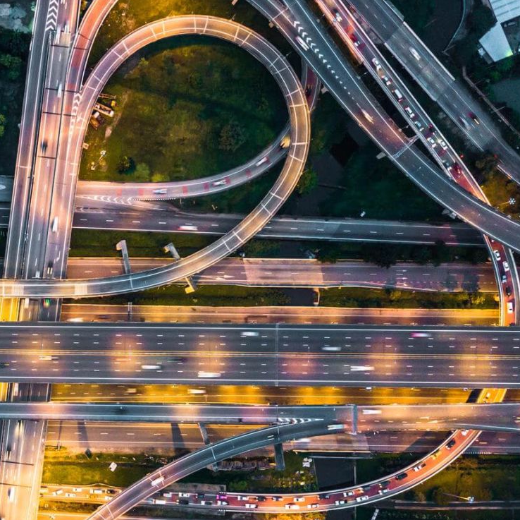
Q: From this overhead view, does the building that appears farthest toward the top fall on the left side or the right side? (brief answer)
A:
right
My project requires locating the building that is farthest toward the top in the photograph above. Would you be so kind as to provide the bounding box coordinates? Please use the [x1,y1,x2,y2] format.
[482,0,520,27]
